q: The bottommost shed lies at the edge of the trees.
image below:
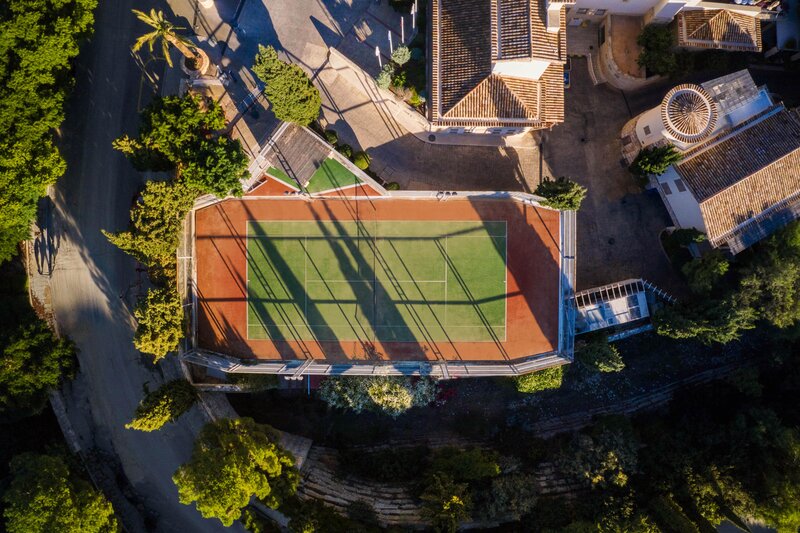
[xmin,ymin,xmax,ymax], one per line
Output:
[564,277,649,334]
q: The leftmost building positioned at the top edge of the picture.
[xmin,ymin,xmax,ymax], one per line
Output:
[431,0,569,134]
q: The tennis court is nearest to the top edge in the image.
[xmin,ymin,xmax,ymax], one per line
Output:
[196,199,559,363]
